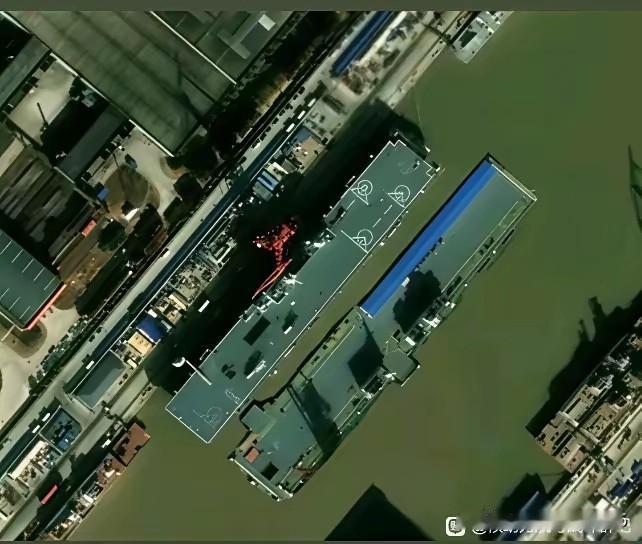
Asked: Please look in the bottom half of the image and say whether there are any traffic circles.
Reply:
No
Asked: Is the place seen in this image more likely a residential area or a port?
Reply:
port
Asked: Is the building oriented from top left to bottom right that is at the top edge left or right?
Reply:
left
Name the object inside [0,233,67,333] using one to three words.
building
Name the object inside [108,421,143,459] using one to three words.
ship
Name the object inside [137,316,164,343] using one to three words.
shed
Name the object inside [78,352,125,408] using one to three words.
shed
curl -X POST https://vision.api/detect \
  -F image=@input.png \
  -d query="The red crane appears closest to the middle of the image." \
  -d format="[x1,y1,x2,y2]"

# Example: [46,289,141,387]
[253,224,293,298]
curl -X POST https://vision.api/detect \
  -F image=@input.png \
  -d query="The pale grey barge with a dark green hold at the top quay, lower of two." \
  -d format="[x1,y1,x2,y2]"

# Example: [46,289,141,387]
[451,18,494,65]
